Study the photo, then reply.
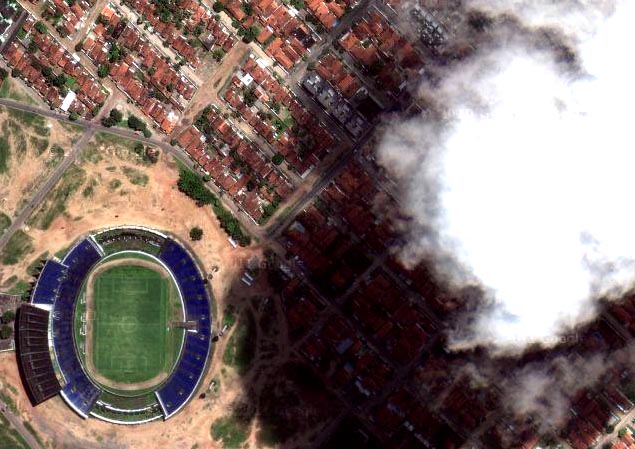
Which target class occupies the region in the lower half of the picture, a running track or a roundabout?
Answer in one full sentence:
Visible in the lower half of the picture is a running track.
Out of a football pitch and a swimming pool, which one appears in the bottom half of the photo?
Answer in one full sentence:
The one visible in the bottom half of the photo is a football pitch.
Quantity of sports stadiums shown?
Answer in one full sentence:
In total, 1 sports stadium can be seen.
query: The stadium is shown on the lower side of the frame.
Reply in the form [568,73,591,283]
[18,226,212,424]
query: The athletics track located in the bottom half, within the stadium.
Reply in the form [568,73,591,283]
[87,259,172,389]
